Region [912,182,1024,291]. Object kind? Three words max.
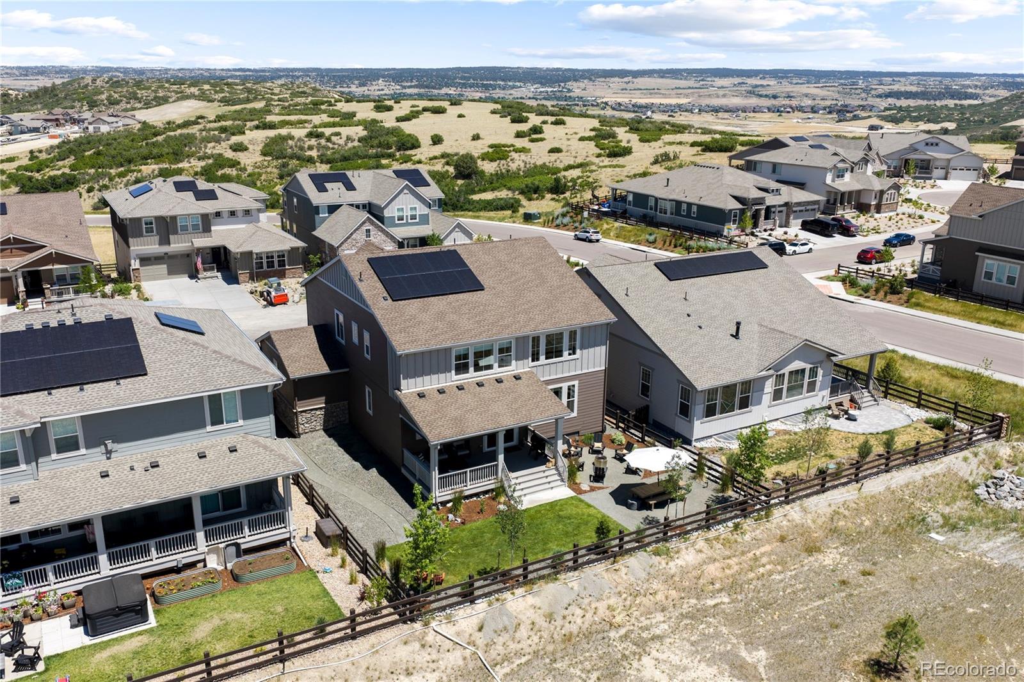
house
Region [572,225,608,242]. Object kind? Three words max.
car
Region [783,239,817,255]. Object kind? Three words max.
car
